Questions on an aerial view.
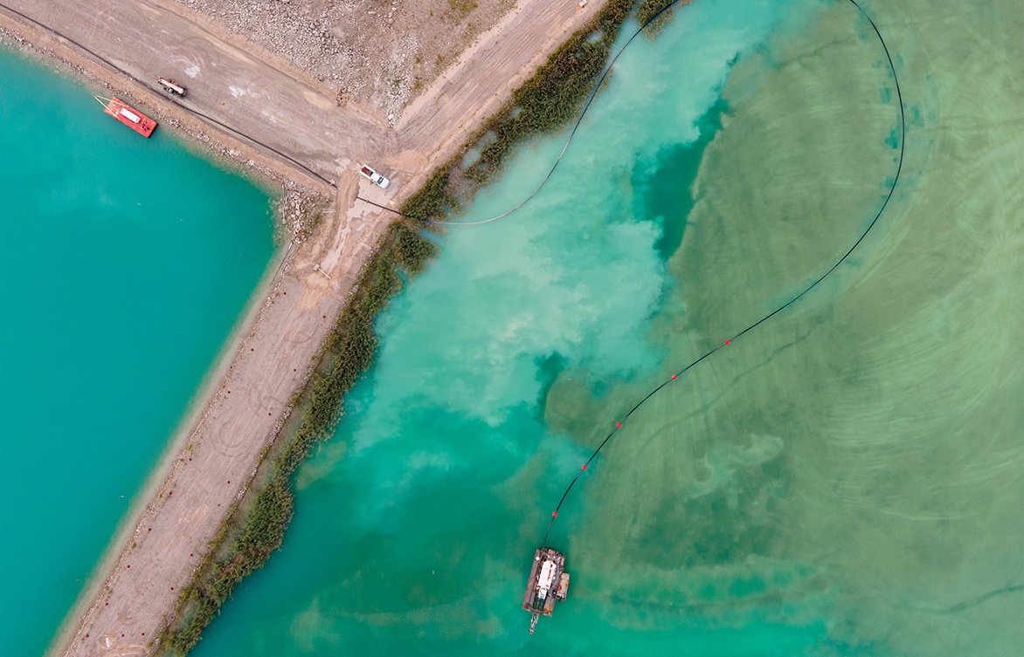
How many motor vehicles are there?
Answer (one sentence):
The photo contains 2 motor vehicles.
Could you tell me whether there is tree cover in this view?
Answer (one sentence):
No, no tree cover is visible.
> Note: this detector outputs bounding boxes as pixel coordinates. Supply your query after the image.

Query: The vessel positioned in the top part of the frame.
[92,94,160,139]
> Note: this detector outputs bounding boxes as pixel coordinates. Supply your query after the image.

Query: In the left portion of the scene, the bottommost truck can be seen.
[359,163,391,191]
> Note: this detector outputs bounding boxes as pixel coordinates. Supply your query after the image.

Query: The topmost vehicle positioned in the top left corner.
[155,77,189,100]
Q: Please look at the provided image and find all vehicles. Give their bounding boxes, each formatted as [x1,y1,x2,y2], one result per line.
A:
[155,77,189,100]
[359,163,391,191]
